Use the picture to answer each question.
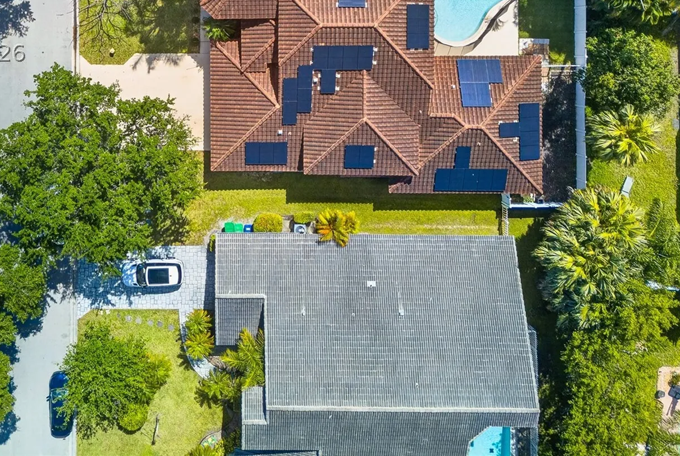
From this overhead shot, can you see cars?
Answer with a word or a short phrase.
Yes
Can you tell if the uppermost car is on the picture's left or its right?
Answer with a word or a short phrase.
left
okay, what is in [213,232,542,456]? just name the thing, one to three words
house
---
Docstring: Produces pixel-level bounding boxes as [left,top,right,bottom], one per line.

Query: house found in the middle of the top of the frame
[200,0,545,196]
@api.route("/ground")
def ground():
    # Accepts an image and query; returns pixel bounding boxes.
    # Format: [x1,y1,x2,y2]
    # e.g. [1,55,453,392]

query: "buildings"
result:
[200,0,545,196]
[213,232,542,456]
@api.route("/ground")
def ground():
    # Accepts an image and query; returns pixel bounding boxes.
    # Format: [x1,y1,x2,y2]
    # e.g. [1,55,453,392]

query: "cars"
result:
[121,258,185,293]
[45,370,78,440]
